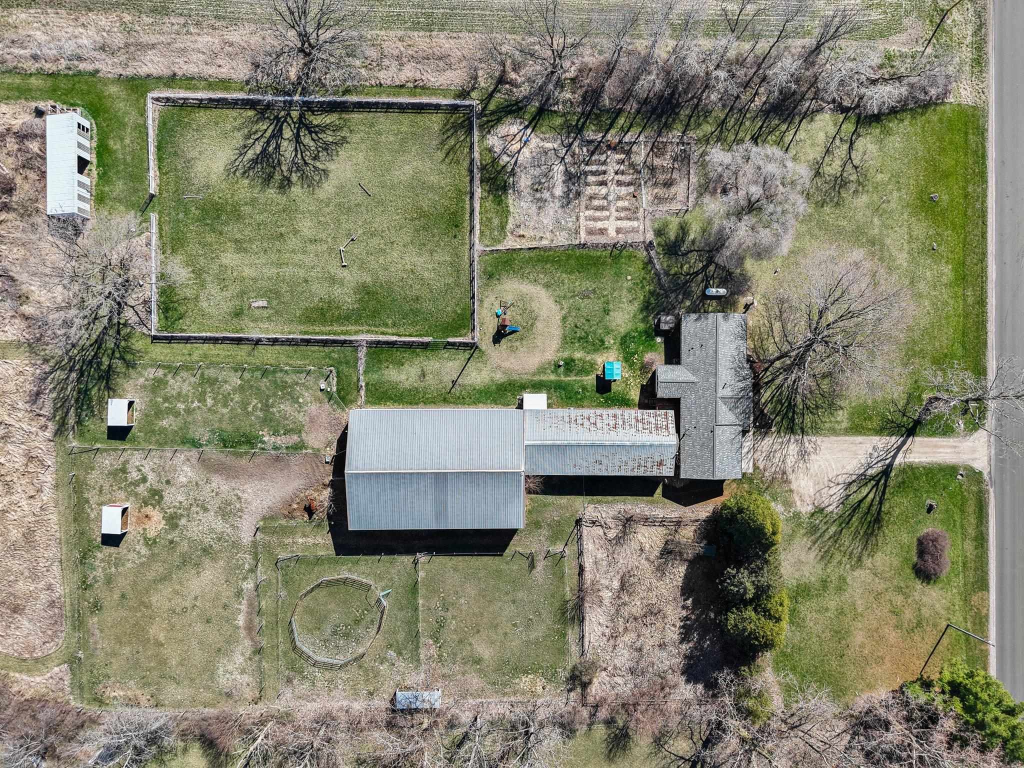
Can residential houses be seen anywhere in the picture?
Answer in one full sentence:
Yes, a residential house is visible in the scene.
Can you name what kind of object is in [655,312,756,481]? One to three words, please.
house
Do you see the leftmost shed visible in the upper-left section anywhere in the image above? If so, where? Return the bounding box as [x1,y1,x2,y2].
[46,114,90,218]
